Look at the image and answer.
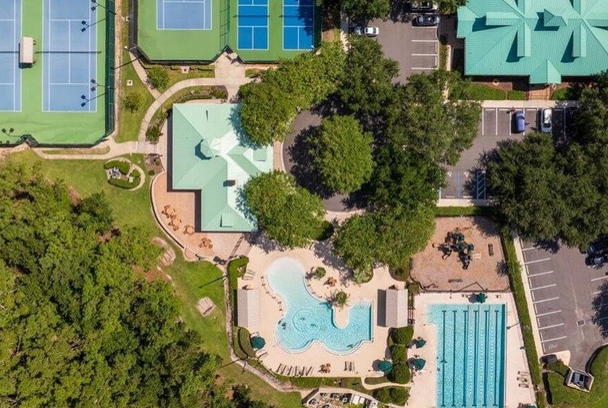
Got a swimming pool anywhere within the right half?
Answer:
Yes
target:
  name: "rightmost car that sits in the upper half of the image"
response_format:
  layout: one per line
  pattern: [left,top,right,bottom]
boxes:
[541,108,554,133]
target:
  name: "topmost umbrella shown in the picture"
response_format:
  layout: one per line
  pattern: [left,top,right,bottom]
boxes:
[473,290,487,304]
